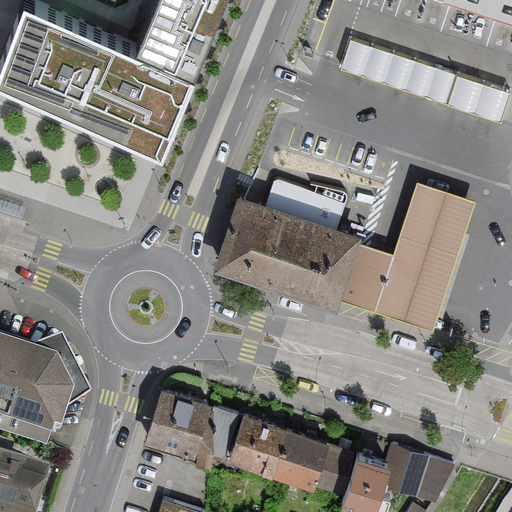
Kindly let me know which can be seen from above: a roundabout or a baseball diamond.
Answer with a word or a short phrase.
roundabout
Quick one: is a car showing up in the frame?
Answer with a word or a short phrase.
Yes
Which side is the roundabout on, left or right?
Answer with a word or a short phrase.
left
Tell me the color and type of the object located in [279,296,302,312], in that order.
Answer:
white car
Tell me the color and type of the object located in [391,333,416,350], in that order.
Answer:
white vehicle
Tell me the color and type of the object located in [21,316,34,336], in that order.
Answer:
red vehicle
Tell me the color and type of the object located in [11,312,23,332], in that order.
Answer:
white vehicle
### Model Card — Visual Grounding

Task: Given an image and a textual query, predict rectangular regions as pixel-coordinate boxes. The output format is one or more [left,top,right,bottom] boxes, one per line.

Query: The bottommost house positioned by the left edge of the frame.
[0,443,51,512]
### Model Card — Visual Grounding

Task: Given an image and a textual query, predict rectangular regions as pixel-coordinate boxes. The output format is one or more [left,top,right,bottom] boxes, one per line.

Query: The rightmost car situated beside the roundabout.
[213,302,236,318]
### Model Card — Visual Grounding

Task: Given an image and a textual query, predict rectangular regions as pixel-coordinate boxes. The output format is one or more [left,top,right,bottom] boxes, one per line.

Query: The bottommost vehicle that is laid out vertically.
[116,426,128,448]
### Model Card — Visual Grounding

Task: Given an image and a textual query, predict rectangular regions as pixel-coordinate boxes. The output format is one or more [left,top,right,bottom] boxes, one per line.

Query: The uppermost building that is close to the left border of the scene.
[0,0,194,166]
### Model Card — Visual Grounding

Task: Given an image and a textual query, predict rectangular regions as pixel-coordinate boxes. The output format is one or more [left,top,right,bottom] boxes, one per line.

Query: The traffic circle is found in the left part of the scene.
[80,242,212,371]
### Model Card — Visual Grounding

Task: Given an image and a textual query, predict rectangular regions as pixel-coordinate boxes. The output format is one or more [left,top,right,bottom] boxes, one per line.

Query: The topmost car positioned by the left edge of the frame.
[15,266,38,280]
